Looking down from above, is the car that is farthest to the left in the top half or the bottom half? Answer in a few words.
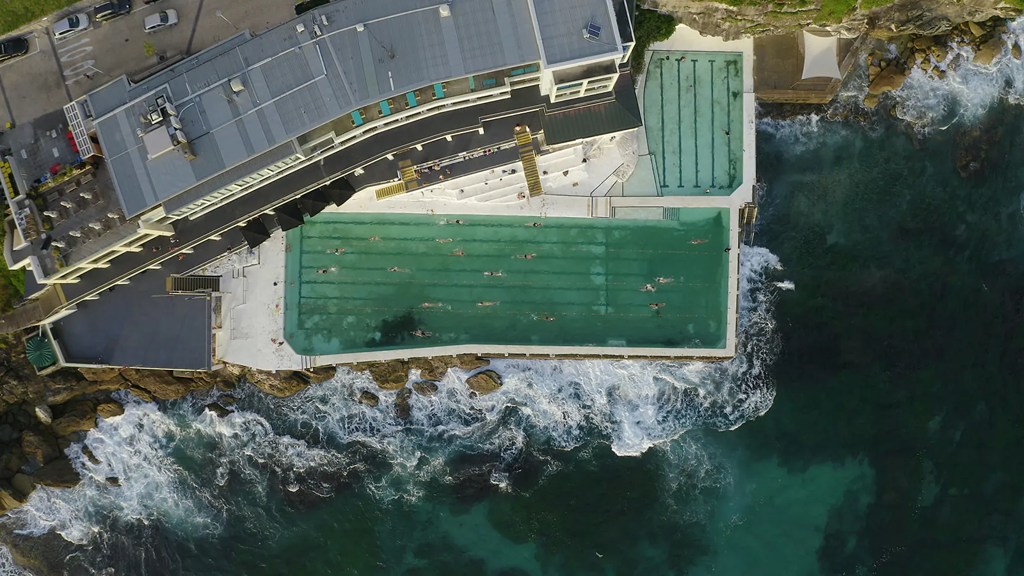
top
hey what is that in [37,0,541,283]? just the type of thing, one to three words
building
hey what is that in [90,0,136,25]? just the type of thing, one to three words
car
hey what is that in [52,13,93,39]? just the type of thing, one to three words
car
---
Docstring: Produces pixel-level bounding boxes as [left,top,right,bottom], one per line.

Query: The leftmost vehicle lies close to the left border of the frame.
[0,37,30,61]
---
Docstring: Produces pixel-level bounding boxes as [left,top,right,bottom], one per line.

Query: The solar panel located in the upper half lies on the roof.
[581,21,601,38]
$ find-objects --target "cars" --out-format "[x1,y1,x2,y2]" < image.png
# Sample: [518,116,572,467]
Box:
[0,37,30,61]
[141,9,182,33]
[90,0,136,25]
[52,13,93,39]
[141,0,177,10]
